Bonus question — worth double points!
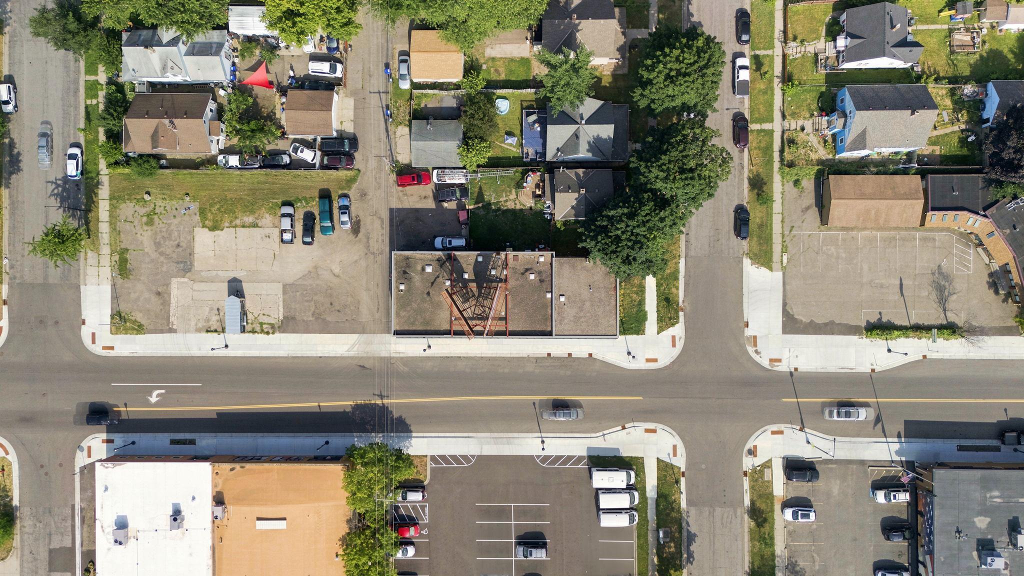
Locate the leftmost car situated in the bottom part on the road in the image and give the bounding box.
[90,411,123,426]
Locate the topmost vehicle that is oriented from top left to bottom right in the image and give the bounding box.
[289,141,316,164]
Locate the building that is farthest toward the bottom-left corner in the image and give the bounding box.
[95,455,225,576]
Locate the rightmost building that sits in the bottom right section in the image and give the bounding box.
[912,460,1024,576]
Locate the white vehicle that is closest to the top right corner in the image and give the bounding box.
[733,56,751,98]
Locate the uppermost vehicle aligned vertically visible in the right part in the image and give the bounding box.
[735,11,752,46]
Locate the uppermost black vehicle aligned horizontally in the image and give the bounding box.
[302,76,338,92]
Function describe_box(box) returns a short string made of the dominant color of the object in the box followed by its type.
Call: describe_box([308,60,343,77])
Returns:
white car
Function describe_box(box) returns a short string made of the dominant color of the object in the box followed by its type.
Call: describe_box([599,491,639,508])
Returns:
white vehicle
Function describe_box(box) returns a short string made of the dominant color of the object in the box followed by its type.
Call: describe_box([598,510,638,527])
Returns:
white vehicle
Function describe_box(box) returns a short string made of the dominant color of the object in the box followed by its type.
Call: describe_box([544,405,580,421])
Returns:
gray car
